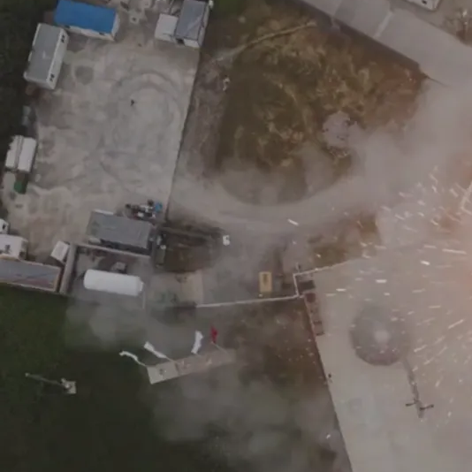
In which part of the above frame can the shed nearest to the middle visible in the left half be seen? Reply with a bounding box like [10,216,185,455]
[86,210,156,254]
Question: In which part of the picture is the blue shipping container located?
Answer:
top left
